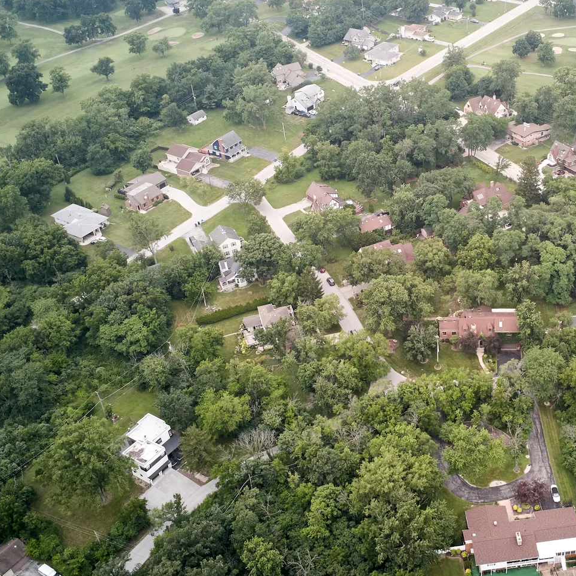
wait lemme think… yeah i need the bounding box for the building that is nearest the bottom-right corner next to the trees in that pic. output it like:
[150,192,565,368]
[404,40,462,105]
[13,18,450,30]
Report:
[462,500,576,576]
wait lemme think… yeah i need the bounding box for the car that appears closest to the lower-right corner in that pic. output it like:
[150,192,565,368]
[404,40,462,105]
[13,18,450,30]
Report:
[549,482,561,503]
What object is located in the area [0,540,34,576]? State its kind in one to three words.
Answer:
building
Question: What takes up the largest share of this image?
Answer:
trees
